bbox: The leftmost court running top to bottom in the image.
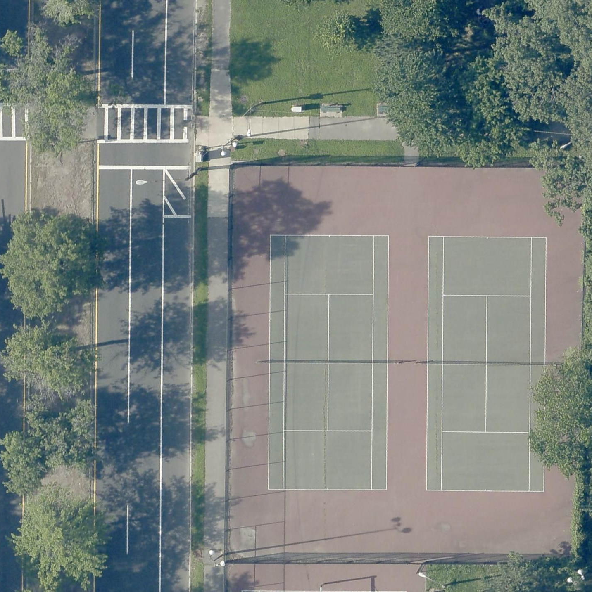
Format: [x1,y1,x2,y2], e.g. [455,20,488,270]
[268,235,389,543]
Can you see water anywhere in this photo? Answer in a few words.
No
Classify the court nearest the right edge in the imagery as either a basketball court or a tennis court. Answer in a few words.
tennis court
